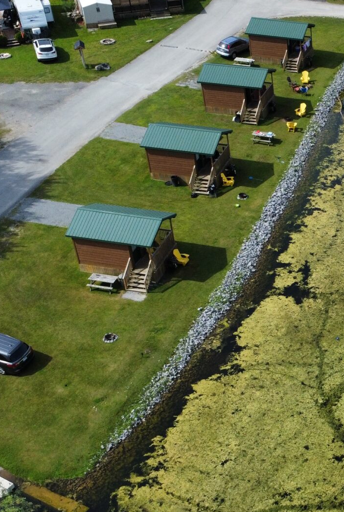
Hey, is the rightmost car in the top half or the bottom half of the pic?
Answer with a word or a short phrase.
top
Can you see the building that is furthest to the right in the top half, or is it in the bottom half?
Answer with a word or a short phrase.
top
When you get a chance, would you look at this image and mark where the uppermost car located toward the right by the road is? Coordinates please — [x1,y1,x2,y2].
[216,36,249,59]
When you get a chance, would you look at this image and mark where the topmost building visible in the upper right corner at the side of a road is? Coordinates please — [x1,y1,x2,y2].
[245,16,320,72]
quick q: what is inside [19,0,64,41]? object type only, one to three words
vehicle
